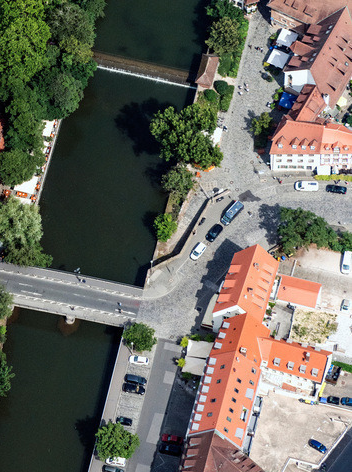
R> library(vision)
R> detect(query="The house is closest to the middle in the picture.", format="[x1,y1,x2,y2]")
[212,245,278,331]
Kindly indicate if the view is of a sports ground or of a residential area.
residential area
